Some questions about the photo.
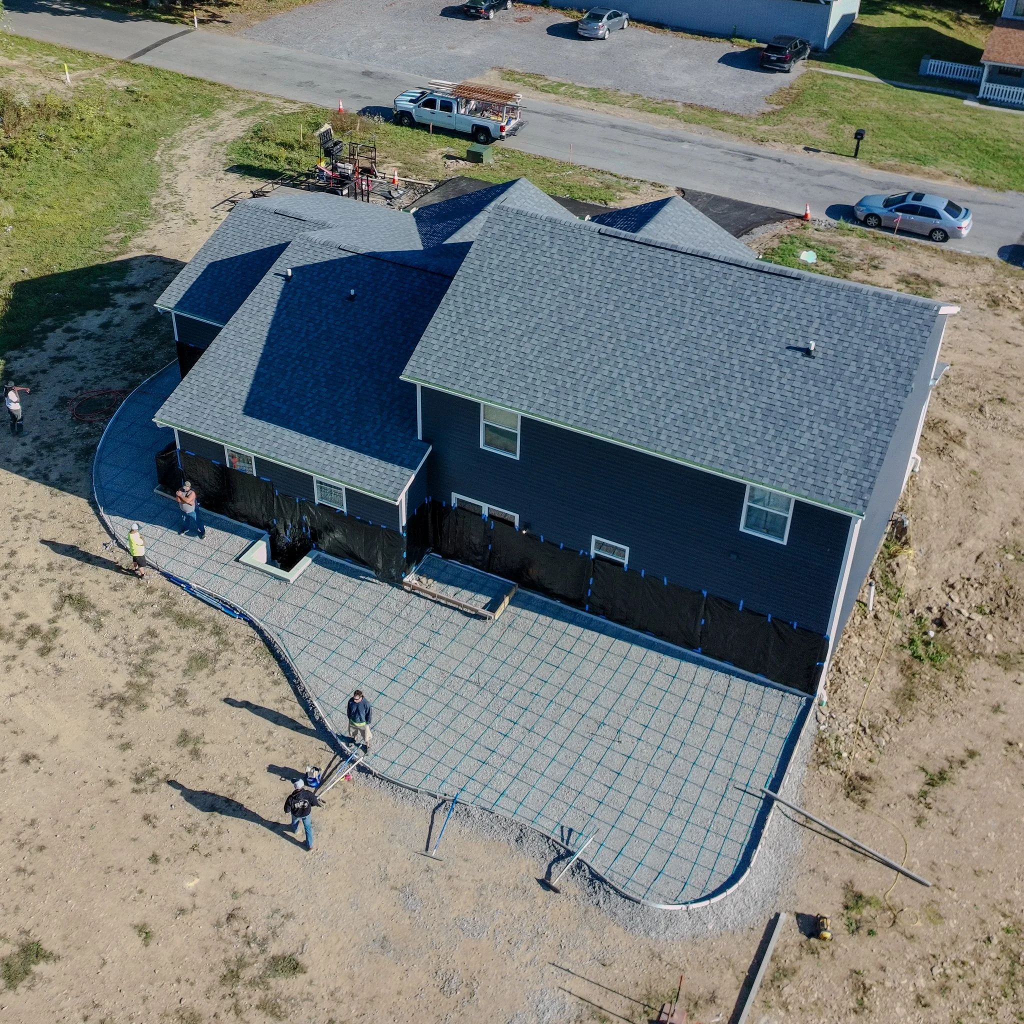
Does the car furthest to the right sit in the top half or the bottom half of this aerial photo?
top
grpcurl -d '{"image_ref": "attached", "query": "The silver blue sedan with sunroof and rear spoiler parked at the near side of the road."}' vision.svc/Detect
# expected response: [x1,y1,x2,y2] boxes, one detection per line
[852,201,978,253]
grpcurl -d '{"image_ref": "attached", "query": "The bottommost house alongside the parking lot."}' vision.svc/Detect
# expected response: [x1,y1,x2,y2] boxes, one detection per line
[148,177,964,704]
